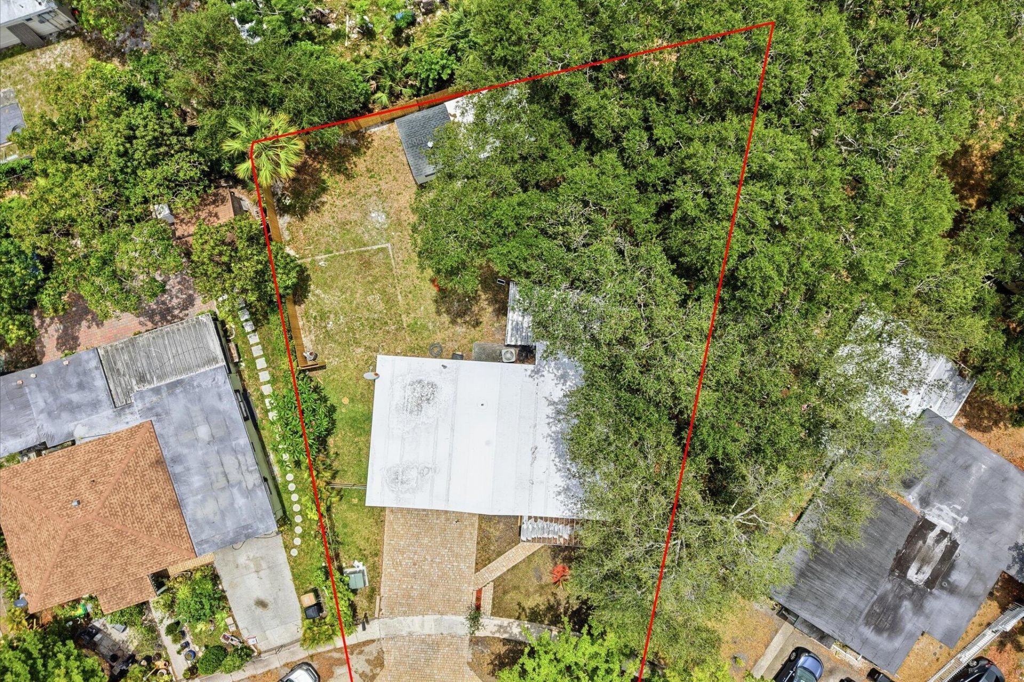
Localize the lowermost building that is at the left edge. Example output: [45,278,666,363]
[0,312,288,615]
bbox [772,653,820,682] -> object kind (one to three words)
car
